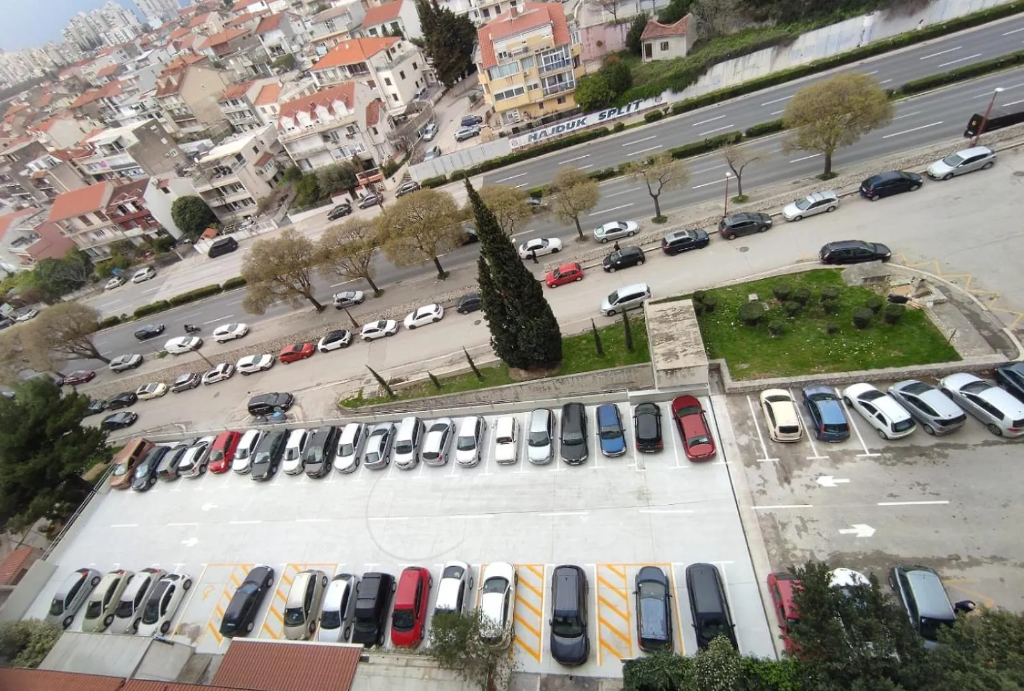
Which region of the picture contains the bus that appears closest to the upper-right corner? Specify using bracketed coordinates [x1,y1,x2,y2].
[961,96,1024,138]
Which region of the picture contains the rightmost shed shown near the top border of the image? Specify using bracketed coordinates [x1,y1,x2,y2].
[639,6,701,64]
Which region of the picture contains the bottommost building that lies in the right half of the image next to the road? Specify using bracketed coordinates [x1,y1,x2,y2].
[644,299,709,384]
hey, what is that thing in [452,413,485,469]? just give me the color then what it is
white car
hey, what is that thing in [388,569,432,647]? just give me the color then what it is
red car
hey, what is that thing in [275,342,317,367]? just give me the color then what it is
red car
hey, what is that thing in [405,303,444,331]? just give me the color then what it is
white car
